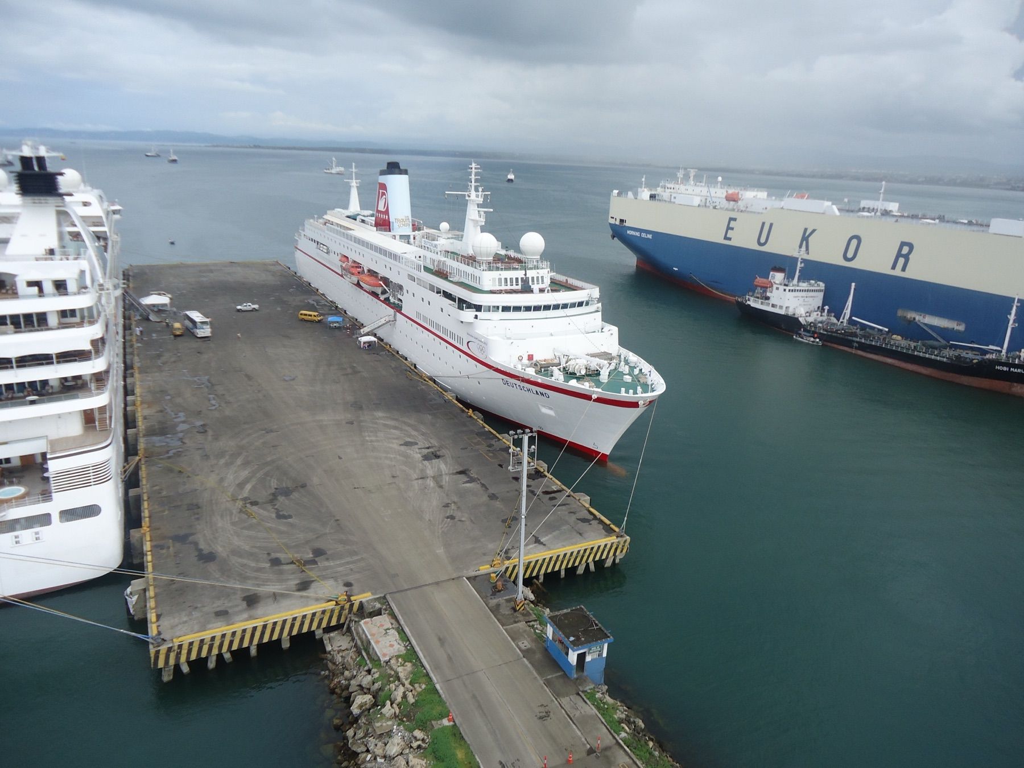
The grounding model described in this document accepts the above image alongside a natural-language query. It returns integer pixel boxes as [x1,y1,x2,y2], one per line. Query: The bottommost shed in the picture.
[544,604,614,693]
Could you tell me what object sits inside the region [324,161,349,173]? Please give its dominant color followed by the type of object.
white vessel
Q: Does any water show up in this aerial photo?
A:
Yes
